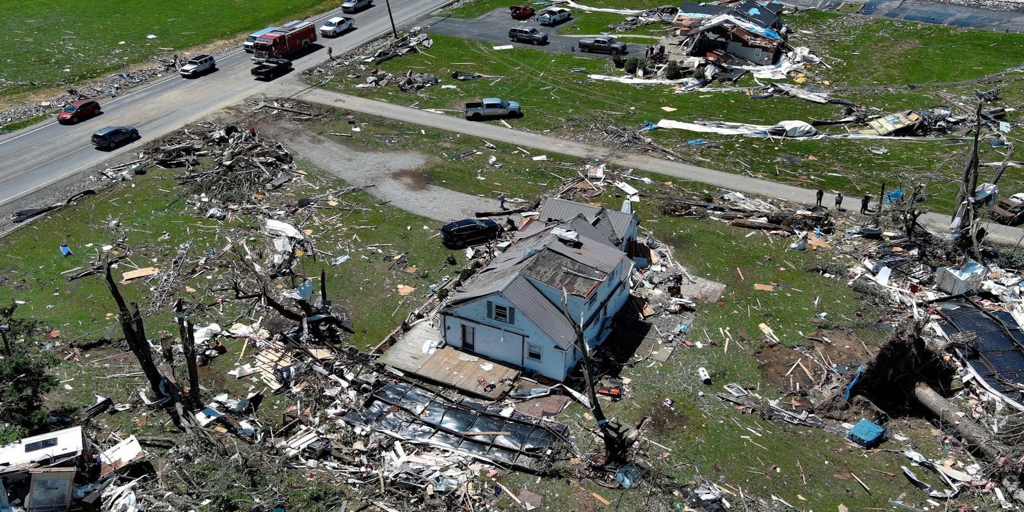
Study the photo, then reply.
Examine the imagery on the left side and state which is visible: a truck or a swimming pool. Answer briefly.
truck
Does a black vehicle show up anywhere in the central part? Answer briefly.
Yes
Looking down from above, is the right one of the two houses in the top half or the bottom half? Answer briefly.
top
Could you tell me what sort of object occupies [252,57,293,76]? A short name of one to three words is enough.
vehicle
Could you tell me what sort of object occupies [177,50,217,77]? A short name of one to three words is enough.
car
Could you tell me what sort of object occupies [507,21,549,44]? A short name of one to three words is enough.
car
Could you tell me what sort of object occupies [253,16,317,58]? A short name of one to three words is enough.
truck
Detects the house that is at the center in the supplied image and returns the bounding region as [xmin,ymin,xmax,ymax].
[432,192,652,382]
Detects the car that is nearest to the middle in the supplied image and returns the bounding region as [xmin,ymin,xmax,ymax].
[437,212,503,247]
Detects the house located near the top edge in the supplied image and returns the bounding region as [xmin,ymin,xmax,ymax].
[675,0,789,65]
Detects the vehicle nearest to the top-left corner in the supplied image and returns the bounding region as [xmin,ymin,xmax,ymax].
[55,96,104,122]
